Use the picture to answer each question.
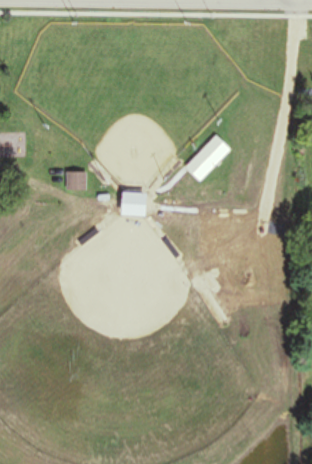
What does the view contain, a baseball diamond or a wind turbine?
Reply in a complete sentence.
Visible in the photo is a baseball diamond.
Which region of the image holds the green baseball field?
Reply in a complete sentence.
The green baseball field is located in the top region of the scene.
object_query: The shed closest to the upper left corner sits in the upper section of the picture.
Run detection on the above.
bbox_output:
[66,172,87,191]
